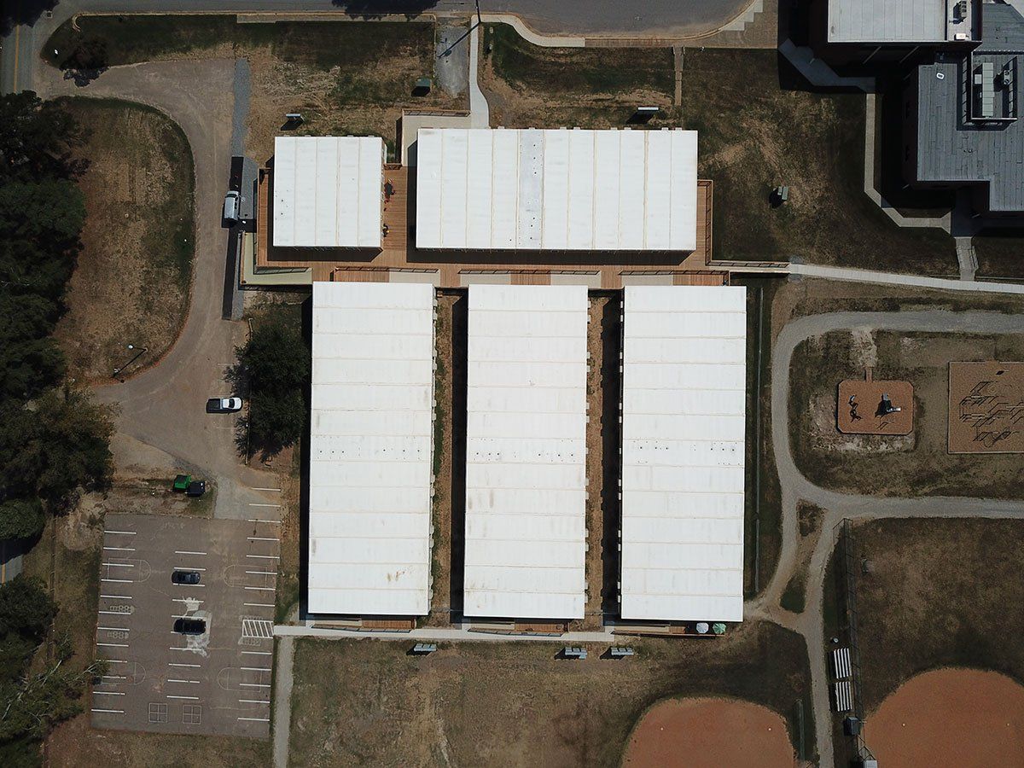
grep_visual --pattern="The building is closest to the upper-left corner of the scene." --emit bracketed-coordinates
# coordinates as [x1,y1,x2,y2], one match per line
[273,133,385,252]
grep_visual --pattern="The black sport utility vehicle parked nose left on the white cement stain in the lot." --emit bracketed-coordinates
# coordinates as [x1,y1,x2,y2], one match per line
[174,617,206,634]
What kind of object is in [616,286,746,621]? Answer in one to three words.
building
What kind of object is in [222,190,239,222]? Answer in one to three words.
vehicle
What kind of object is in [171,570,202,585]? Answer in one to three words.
car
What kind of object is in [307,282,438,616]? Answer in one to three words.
building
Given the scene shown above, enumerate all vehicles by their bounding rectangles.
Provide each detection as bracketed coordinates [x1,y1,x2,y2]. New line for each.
[174,617,206,634]
[171,570,202,585]
[222,190,239,222]
[205,396,243,412]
